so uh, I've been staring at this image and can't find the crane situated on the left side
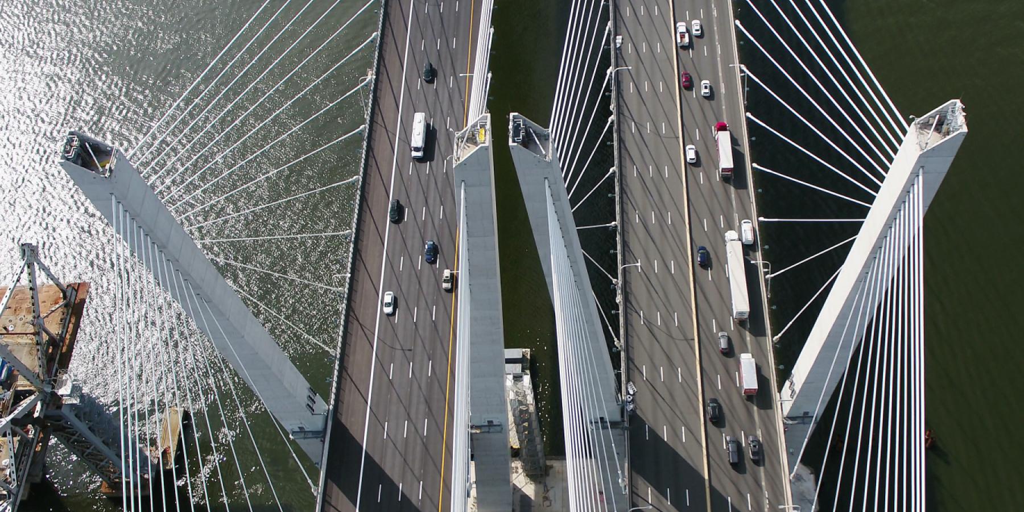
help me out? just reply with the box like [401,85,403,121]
[0,241,158,512]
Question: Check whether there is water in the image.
Yes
